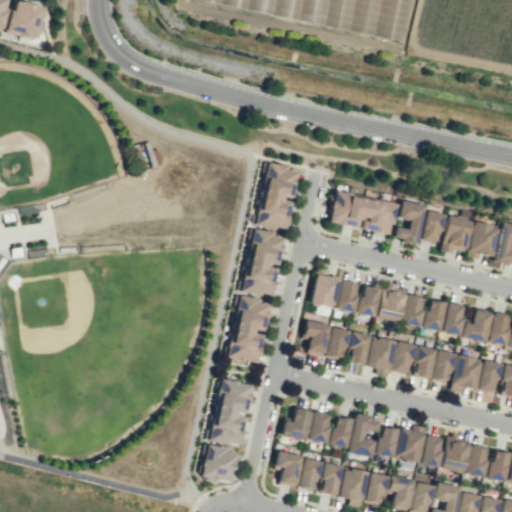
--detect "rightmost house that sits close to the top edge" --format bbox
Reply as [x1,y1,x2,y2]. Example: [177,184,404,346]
[8,0,49,36]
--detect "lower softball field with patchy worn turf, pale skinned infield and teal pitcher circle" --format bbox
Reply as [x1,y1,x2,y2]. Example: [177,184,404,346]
[0,250,204,461]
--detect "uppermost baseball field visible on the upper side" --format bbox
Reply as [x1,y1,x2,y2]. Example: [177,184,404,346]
[0,62,125,210]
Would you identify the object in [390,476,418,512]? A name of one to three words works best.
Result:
house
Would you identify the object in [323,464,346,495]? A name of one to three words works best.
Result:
house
